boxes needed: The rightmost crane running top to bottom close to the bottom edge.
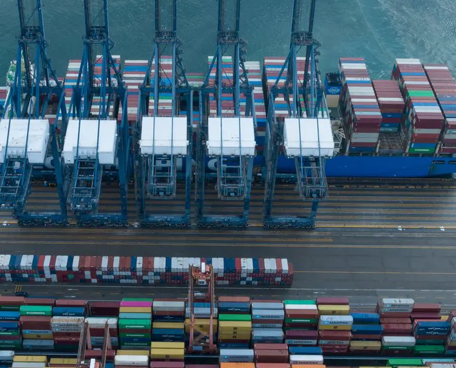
[192,257,227,359]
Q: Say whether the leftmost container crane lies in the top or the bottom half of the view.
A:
top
